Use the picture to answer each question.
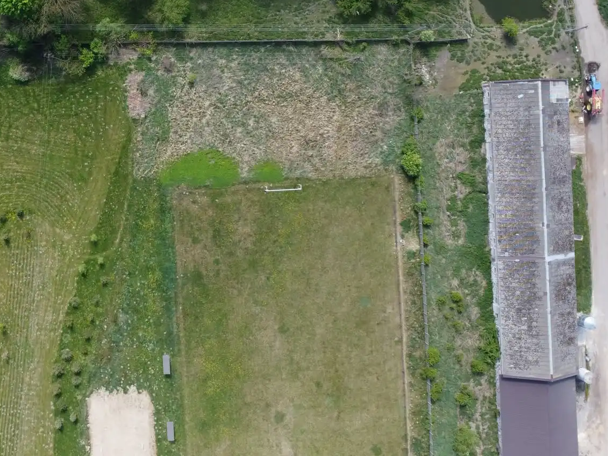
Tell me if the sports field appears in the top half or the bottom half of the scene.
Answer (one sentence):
You can find the sports field in the bottom half.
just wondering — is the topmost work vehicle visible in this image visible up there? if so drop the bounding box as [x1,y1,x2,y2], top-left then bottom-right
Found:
[586,73,603,92]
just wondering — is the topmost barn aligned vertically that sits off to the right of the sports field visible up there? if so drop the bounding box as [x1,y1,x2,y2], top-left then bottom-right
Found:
[483,79,579,382]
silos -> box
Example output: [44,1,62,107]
[578,371,595,384]
[577,318,596,333]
